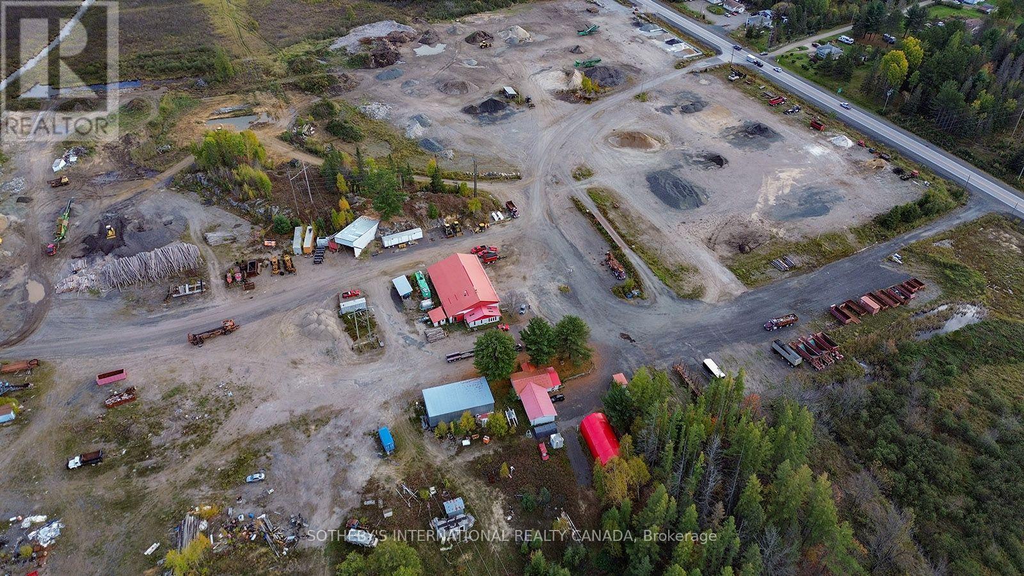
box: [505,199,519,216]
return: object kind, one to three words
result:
vehicle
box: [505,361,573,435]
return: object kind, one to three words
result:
house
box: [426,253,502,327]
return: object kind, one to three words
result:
building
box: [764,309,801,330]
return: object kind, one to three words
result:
truck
